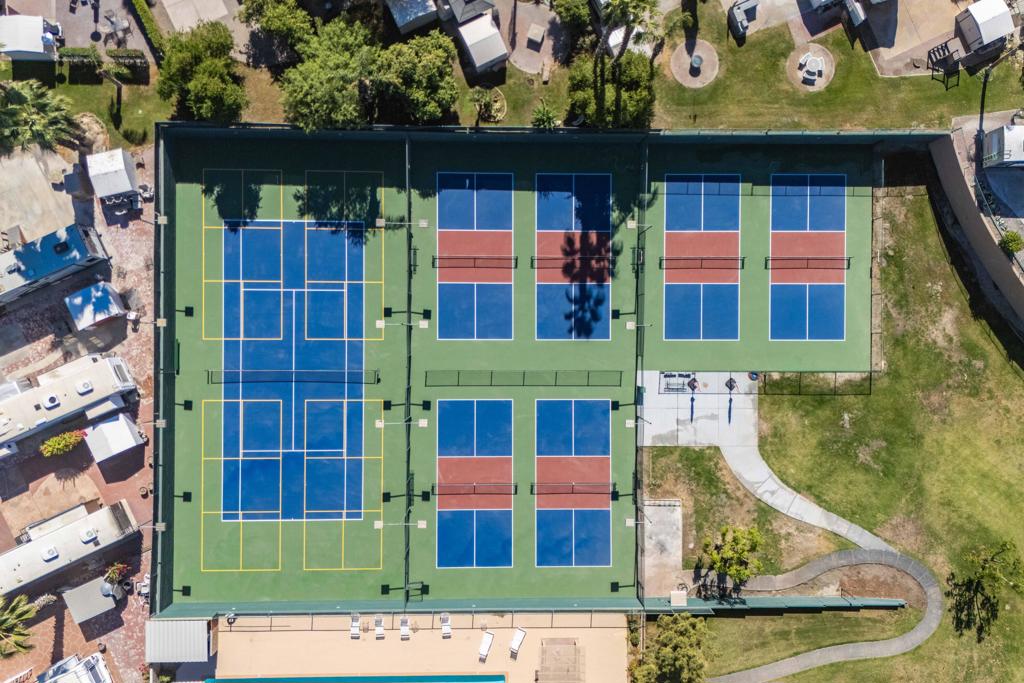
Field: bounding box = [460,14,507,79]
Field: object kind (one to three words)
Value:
house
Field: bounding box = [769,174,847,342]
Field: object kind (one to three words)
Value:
sports court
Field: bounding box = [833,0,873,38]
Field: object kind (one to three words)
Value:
shed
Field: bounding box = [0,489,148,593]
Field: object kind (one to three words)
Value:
camper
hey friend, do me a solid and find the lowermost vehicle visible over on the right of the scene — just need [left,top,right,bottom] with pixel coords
[981,126,1024,173]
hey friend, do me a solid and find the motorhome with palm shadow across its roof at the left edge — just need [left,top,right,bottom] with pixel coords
[0,219,118,313]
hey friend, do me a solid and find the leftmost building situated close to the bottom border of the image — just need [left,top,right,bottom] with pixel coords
[146,620,219,662]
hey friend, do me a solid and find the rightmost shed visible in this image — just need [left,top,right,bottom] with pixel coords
[947,0,1016,56]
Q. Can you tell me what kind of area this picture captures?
sports ground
